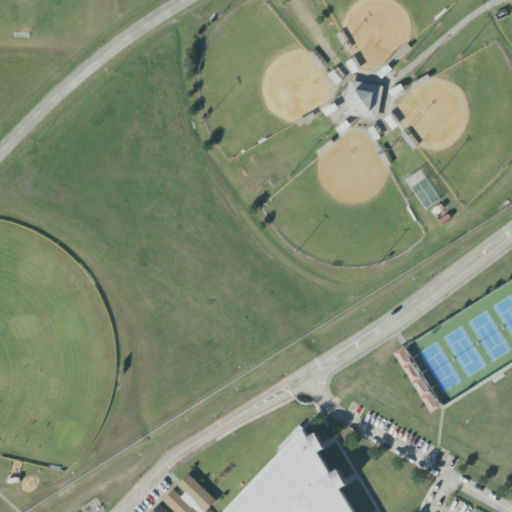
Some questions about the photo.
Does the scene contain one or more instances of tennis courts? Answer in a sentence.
Yes, the photo shows a tennis court.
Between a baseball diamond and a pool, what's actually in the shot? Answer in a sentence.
I can see a baseball diamond in this picture.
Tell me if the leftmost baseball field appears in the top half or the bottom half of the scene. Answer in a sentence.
You can find the leftmost baseball field in the bottom half.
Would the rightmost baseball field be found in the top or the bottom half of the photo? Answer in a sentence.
You can find the rightmost baseball field in the top half.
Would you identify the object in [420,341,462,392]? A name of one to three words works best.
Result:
tennis court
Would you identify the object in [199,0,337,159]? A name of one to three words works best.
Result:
baseball field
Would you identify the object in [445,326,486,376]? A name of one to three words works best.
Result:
tennis court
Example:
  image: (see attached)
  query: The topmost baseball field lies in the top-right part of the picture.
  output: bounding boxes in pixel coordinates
[324,0,458,72]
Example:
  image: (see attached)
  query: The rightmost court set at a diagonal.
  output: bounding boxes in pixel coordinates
[470,311,510,361]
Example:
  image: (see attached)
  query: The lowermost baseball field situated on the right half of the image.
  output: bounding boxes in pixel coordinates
[264,128,424,267]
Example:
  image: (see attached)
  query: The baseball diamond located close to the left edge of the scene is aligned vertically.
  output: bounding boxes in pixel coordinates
[0,220,116,470]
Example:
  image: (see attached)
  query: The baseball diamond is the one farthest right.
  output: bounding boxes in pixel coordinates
[394,40,512,206]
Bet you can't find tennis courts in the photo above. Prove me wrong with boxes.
[445,326,486,376]
[494,296,512,336]
[470,311,510,361]
[420,341,462,392]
